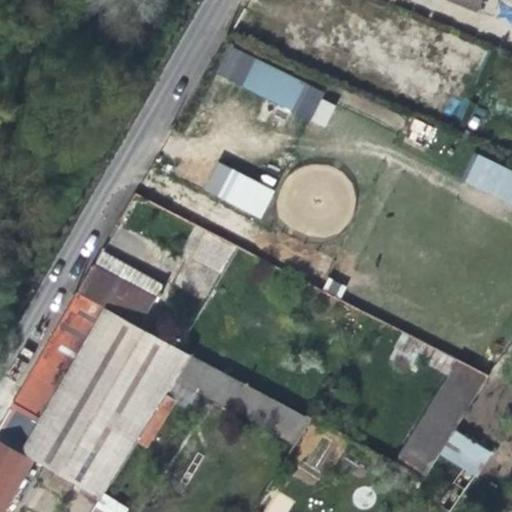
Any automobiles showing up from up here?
Yes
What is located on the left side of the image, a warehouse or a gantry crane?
warehouse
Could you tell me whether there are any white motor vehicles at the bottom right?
No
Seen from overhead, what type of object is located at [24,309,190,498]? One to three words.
warehouse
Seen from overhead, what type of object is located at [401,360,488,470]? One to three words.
shed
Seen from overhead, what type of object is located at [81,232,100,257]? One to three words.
car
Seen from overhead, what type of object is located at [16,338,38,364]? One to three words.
truck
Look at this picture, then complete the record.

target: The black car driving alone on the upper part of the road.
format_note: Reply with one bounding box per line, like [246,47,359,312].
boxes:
[171,76,188,100]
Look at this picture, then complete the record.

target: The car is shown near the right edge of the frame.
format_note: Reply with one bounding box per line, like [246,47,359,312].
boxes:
[470,106,488,130]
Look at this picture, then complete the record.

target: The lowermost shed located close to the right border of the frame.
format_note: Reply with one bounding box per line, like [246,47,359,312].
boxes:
[442,430,494,476]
